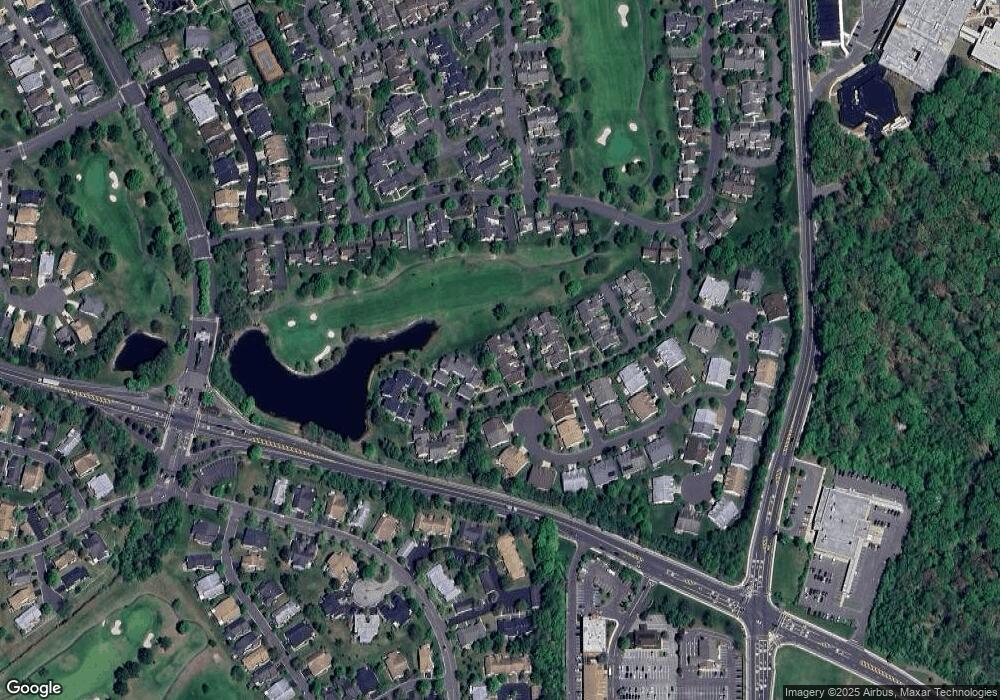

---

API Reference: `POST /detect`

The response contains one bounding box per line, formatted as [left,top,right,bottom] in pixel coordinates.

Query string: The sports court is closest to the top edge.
[232,5,264,46]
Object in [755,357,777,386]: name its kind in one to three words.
house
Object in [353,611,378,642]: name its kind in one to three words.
house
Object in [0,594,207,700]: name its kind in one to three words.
golf course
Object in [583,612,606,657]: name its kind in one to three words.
building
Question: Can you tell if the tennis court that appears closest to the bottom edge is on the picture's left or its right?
left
